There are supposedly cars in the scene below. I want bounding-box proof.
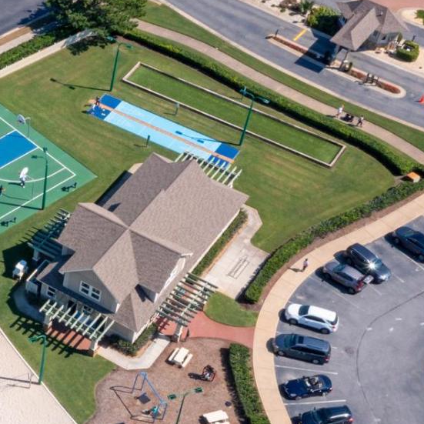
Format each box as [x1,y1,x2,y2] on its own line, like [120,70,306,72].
[393,227,424,261]
[344,243,393,281]
[286,304,341,334]
[323,261,380,295]
[272,332,331,364]
[298,404,358,424]
[284,376,338,401]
